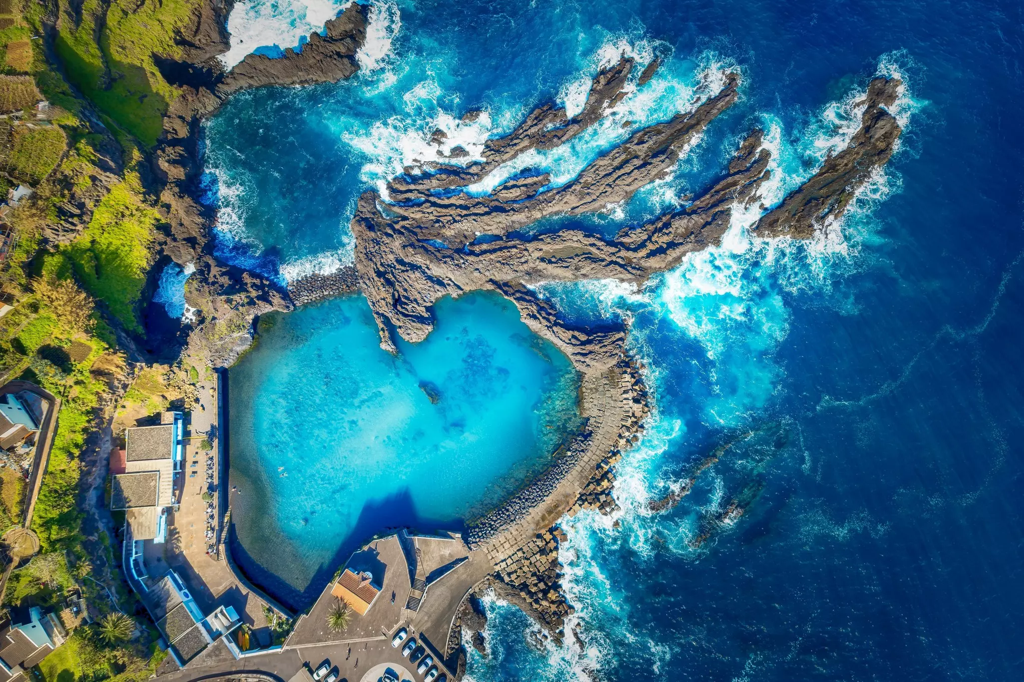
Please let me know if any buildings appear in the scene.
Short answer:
Yes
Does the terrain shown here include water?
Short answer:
Yes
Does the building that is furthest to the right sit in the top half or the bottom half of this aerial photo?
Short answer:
bottom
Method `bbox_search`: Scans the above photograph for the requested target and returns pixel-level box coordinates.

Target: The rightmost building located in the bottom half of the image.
[330,566,381,617]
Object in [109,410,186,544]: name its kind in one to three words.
building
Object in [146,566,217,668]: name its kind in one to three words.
building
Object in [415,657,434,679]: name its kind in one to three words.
car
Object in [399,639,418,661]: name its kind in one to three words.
car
